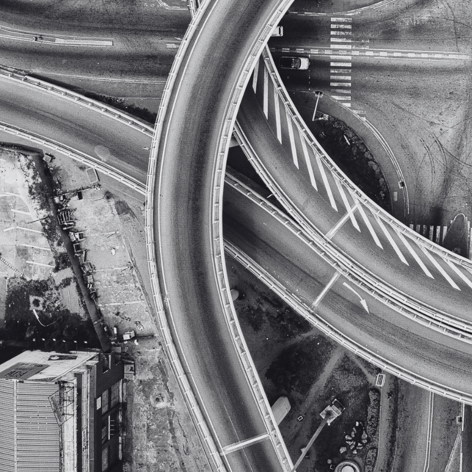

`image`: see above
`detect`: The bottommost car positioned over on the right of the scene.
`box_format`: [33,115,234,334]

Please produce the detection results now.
[279,55,310,71]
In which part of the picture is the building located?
bottom left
